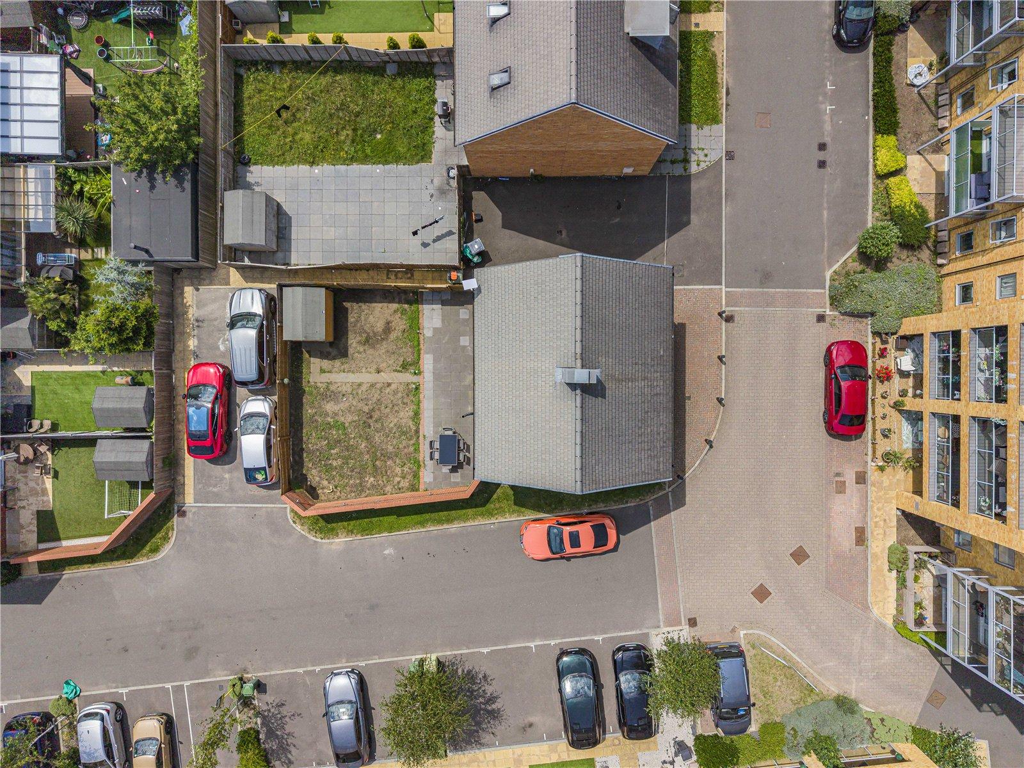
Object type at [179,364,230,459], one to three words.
car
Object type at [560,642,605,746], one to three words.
car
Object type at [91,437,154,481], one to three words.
shed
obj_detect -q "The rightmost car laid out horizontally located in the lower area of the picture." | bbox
[519,516,617,563]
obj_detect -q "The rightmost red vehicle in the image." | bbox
[824,340,874,436]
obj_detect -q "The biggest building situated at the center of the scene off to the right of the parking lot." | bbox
[471,252,675,494]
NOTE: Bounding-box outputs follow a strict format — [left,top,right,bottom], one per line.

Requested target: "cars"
[824,340,874,436]
[127,702,180,768]
[79,689,131,768]
[613,635,658,738]
[327,662,376,764]
[835,0,884,49]
[519,516,617,563]
[706,637,756,732]
[179,364,230,459]
[560,642,605,746]
[226,288,276,387]
[233,397,276,483]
